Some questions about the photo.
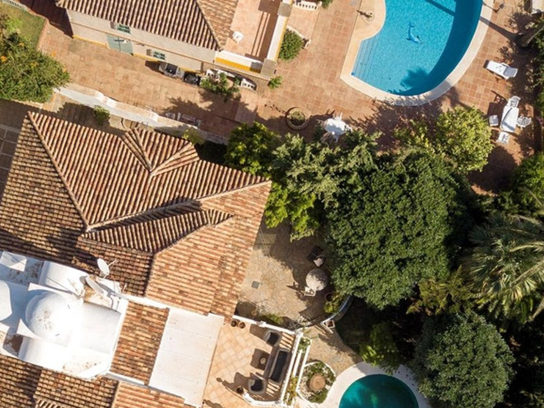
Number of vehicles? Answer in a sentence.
The photo contains no vehicles.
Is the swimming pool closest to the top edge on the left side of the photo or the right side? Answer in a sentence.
It is on the right.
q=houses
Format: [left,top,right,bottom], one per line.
[0,111,273,408]
[54,0,303,93]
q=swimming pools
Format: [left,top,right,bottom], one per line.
[338,374,419,408]
[352,0,487,94]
